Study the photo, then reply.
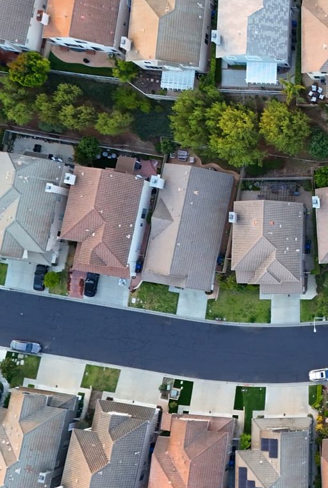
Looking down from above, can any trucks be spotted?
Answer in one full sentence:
No, there is no truck in the image.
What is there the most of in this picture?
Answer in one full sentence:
The largest share of the image is taken up by buildings.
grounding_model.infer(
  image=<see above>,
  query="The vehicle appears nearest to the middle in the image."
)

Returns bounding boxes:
[85,280,99,297]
